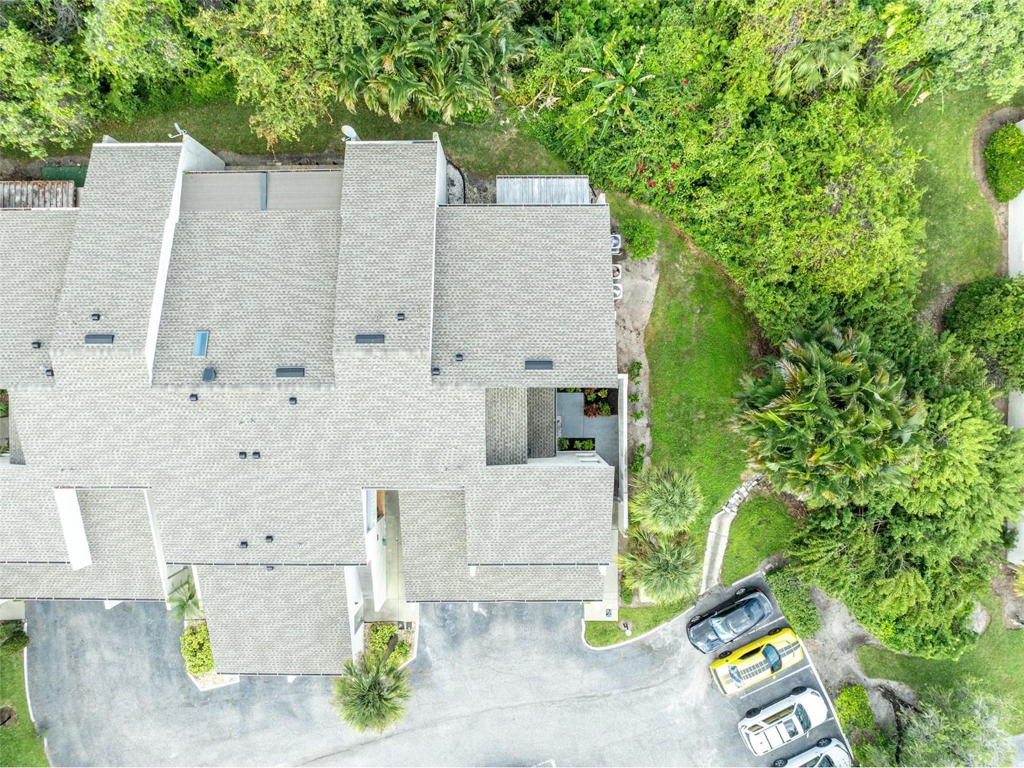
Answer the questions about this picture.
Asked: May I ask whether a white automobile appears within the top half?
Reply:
No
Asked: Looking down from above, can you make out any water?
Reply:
No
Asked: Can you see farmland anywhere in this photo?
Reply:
No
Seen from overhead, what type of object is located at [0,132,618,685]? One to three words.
building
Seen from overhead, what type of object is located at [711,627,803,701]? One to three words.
car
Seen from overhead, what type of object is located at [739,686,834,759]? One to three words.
car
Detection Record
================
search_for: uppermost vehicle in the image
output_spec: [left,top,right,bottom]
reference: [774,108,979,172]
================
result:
[687,588,777,656]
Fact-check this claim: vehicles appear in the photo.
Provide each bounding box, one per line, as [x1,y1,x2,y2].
[772,737,860,768]
[711,627,803,701]
[687,588,777,656]
[739,686,834,759]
